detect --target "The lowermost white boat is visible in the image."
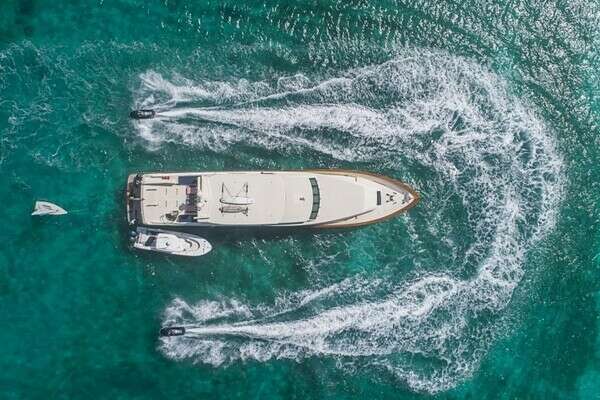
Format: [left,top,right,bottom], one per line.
[127,230,211,256]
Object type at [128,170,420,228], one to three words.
boat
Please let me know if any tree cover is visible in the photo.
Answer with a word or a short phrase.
No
